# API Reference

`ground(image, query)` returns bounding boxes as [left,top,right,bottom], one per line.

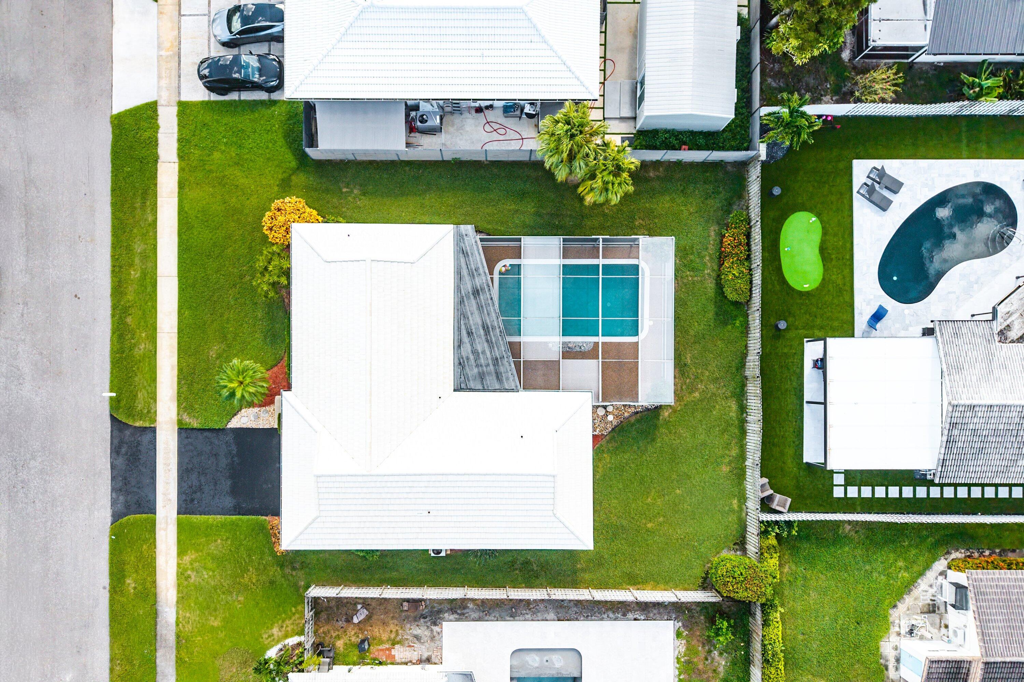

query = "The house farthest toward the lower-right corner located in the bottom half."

[900,569,1024,682]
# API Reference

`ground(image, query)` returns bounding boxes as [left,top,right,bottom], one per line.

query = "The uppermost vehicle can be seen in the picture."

[210,3,284,48]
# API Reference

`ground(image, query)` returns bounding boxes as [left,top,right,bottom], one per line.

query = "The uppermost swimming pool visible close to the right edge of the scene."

[879,181,1018,304]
